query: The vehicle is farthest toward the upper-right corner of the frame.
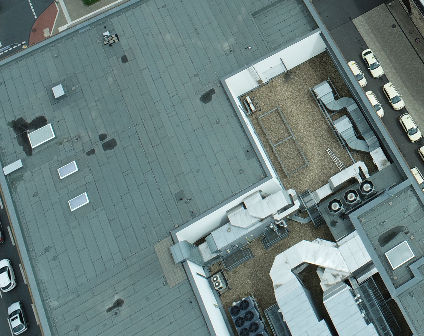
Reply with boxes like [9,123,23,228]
[361,50,384,78]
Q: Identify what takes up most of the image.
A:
buildings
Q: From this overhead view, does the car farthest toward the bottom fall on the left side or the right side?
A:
left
